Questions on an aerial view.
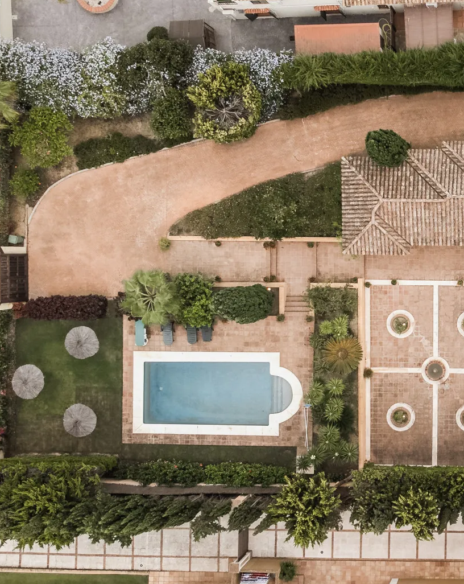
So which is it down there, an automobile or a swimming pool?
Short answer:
swimming pool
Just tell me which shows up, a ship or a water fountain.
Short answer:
water fountain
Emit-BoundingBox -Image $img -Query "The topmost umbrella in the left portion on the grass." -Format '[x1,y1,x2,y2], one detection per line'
[66,323,105,360]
